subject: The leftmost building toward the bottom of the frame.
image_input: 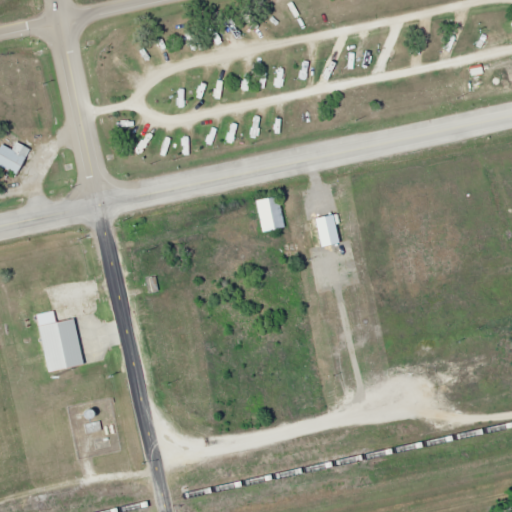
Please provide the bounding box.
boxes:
[37,312,84,372]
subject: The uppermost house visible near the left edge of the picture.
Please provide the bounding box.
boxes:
[0,142,30,175]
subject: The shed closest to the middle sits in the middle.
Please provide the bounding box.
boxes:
[255,196,286,234]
